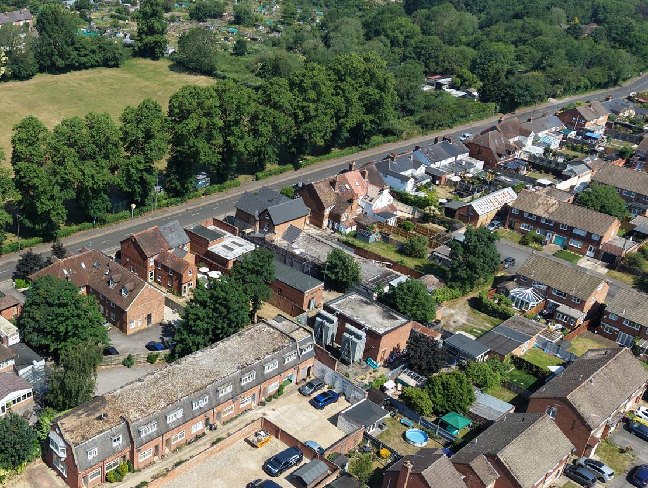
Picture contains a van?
Yes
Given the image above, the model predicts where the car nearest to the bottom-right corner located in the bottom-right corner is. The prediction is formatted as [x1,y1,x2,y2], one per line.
[628,466,648,488]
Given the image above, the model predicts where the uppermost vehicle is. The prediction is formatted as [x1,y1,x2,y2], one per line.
[459,128,473,140]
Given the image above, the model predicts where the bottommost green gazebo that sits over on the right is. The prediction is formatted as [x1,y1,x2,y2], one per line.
[439,418,477,443]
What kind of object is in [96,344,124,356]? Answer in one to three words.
vehicle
